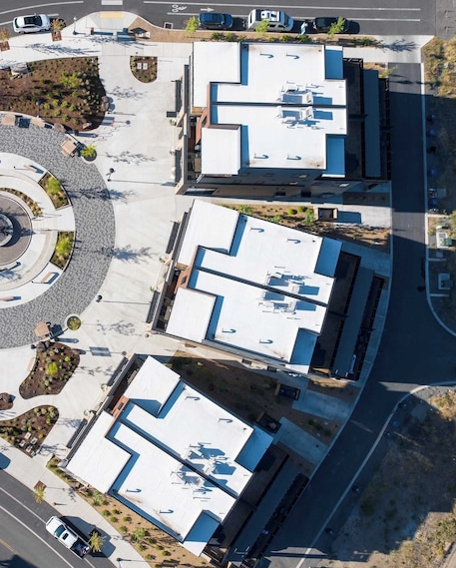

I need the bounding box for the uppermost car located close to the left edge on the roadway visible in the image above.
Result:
[11,12,51,34]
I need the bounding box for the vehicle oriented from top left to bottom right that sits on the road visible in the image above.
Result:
[43,513,93,562]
